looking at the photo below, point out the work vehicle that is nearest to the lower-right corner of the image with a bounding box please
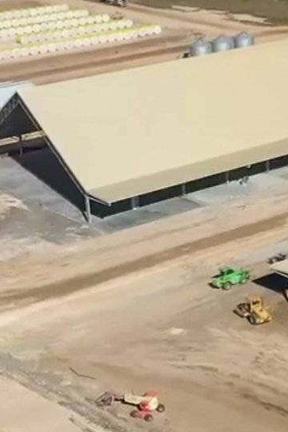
[230,296,272,323]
